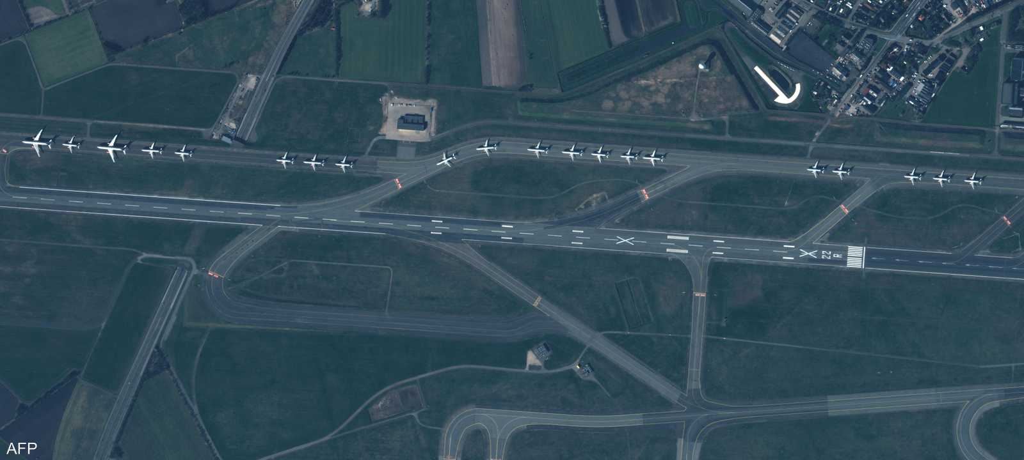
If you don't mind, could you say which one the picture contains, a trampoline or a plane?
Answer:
plane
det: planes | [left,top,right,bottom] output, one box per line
[142,143,162,159]
[621,150,638,164]
[98,135,126,163]
[437,153,456,168]
[277,153,294,169]
[335,157,353,173]
[62,138,80,153]
[964,174,981,190]
[562,145,582,160]
[592,147,609,163]
[807,162,824,177]
[304,155,323,171]
[175,145,192,161]
[477,140,496,156]
[833,164,850,180]
[528,143,548,158]
[643,150,663,167]
[904,169,921,185]
[22,130,51,157]
[933,171,950,188]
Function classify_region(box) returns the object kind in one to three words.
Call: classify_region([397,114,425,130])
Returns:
building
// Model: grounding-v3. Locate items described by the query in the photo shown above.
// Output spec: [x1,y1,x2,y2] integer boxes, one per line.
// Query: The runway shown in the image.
[0,186,1024,279]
